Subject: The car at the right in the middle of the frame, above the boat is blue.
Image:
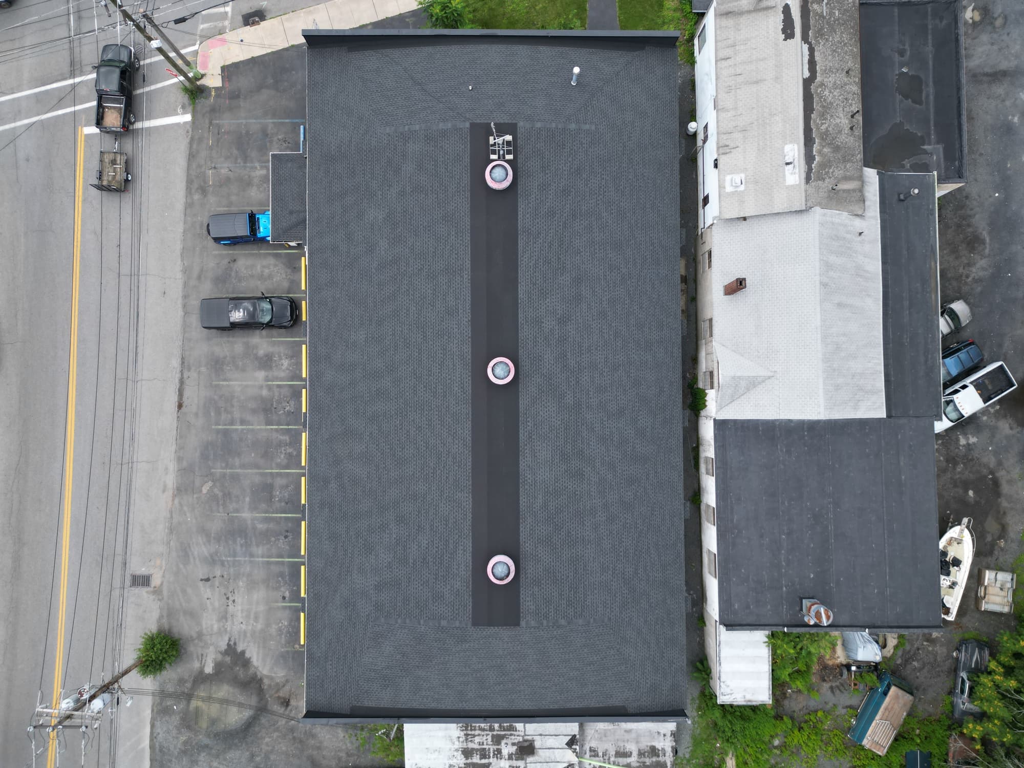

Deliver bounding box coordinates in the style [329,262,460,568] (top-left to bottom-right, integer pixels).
[943,340,987,392]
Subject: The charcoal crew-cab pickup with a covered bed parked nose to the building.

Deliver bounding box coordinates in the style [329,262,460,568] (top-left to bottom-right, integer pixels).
[200,290,301,333]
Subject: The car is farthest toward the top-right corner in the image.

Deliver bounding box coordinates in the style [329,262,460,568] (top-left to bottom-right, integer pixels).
[942,298,975,341]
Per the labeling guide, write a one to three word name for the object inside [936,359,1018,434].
truck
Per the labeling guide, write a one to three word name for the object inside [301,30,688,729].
building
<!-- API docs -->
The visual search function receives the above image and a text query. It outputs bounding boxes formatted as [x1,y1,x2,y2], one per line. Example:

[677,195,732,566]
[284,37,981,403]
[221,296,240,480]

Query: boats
[940,516,983,622]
